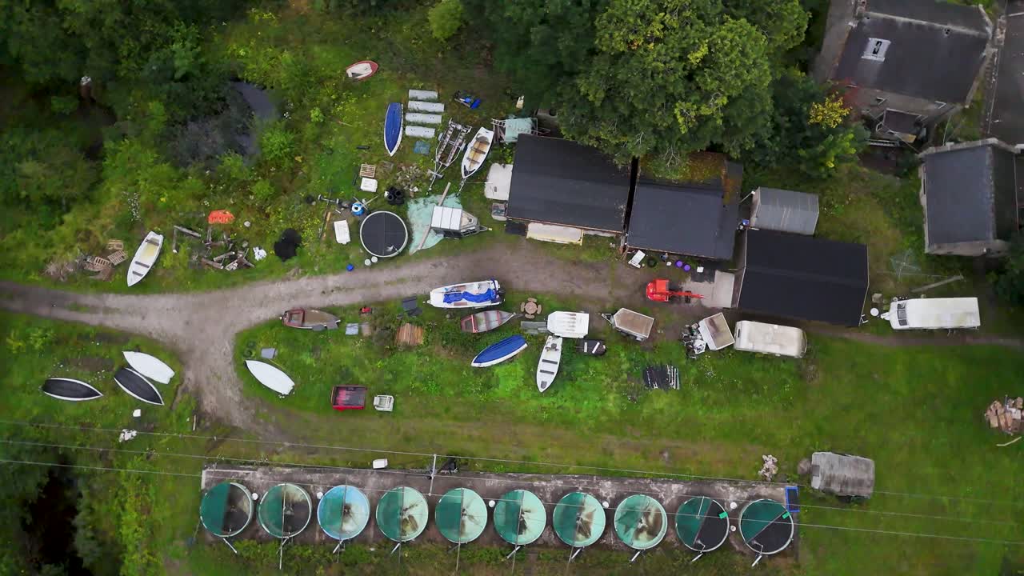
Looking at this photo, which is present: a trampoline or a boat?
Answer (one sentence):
Visible in the photo is a boat.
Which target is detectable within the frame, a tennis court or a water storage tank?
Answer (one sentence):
The one in the frame is a water storage tank.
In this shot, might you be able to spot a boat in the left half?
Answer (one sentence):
Yes, a boat can be seen in the left half.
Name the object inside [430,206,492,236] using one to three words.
trailer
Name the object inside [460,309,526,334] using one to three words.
boat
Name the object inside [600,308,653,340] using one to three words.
trailer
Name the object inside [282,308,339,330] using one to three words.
boat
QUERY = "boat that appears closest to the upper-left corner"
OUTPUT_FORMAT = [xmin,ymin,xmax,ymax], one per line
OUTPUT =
[129,232,164,286]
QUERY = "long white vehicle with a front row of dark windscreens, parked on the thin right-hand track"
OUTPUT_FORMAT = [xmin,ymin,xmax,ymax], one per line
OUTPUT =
[881,298,981,336]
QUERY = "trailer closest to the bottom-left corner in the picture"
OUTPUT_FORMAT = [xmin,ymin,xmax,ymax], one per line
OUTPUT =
[331,386,368,413]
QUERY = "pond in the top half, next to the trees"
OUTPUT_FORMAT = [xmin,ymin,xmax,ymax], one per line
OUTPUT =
[179,85,279,169]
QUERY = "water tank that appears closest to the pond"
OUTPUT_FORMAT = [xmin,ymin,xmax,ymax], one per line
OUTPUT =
[360,211,408,257]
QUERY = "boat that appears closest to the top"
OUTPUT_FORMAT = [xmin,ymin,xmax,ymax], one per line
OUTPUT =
[345,62,379,81]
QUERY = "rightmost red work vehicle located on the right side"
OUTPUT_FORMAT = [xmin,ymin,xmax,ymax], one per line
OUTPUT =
[645,278,711,305]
